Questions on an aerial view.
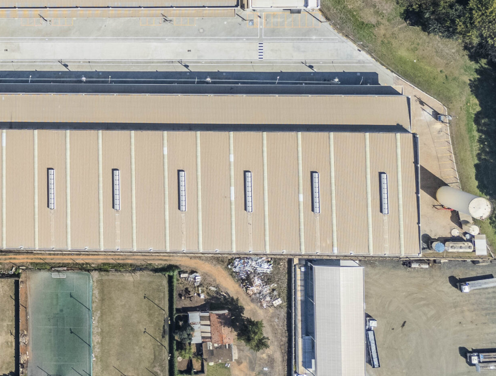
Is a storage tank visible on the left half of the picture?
No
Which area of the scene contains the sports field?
bottom left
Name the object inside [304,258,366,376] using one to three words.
shed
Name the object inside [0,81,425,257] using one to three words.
warehouse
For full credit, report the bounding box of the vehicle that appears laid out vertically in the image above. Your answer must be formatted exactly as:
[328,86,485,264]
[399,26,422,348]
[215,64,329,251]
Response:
[365,316,379,368]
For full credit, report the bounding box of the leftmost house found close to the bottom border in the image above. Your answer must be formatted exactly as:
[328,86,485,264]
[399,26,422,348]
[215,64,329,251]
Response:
[187,311,234,362]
